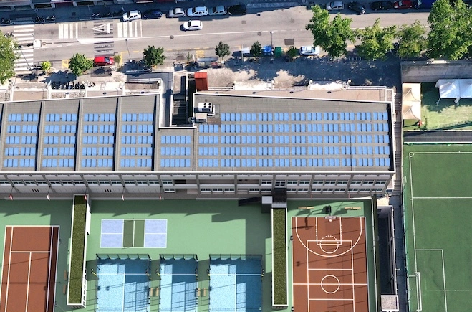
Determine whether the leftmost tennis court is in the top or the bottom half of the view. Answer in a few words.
bottom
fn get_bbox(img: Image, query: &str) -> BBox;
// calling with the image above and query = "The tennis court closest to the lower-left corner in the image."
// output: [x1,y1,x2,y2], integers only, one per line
[0,226,60,312]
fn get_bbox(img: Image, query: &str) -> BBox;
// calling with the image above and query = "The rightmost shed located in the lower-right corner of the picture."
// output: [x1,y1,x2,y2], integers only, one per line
[380,294,400,312]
